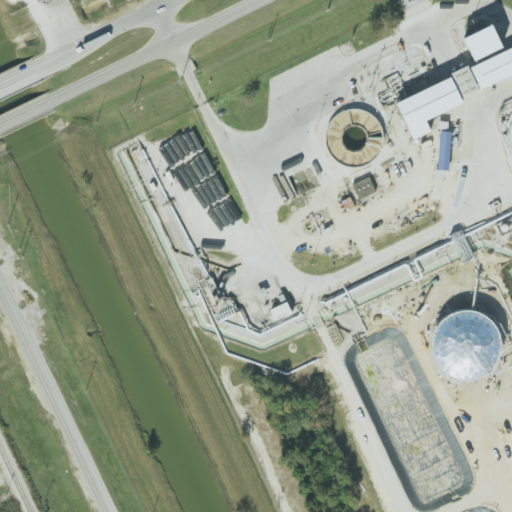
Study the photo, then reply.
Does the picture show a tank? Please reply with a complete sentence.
Yes, the frame does contain a tank.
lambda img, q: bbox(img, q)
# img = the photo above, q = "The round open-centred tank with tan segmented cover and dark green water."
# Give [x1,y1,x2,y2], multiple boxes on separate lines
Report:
[328,110,382,164]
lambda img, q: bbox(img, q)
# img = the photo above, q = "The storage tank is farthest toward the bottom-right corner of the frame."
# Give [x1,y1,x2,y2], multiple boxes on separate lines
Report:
[430,309,504,384]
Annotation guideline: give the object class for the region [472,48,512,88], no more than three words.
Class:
building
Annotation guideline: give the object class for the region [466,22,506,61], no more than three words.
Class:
building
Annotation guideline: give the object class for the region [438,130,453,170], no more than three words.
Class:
shed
